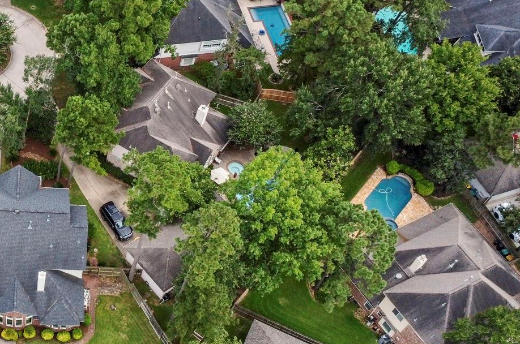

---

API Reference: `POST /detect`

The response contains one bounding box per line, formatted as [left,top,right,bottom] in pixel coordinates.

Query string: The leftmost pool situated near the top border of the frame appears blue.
[248,5,296,55]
